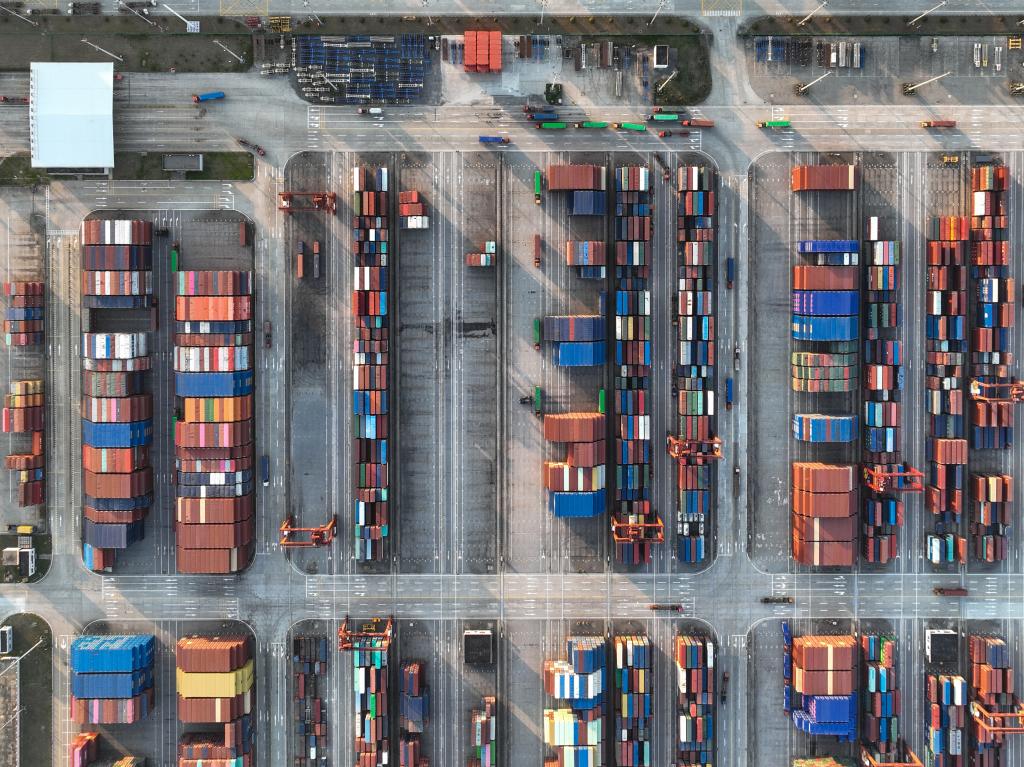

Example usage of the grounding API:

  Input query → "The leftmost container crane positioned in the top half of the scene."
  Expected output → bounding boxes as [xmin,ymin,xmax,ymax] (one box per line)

[277,191,339,216]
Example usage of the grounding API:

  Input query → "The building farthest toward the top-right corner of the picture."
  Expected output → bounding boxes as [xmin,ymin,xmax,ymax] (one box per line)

[652,45,668,69]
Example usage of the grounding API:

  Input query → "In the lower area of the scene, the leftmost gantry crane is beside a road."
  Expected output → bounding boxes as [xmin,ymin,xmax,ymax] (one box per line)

[276,514,338,546]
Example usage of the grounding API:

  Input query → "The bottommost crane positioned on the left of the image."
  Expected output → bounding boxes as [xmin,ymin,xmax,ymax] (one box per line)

[335,615,396,651]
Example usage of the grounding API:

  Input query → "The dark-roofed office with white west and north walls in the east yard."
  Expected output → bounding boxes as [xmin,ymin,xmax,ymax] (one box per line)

[925,630,958,663]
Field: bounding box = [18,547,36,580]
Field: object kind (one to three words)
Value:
building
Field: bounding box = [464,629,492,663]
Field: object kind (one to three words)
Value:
building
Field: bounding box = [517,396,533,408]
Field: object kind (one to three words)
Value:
vehicle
